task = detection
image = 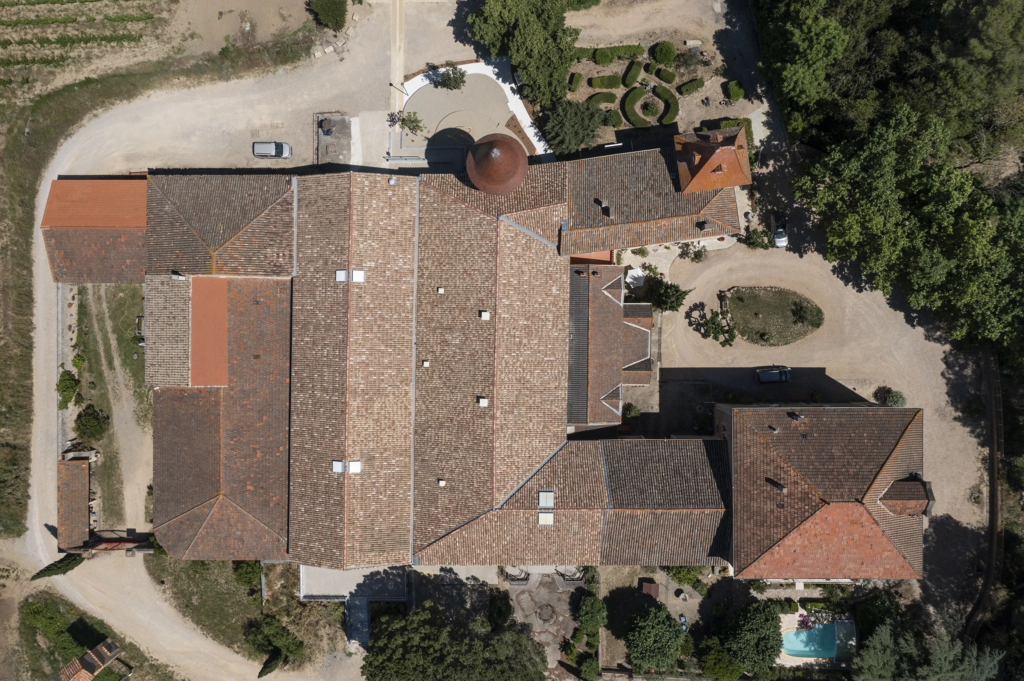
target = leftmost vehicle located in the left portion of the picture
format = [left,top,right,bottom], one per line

[250,138,293,159]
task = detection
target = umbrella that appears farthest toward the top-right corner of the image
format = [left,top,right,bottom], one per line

[625,268,646,287]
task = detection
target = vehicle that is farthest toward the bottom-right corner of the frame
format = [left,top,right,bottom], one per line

[754,365,792,385]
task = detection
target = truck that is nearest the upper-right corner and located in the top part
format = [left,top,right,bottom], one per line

[770,210,792,250]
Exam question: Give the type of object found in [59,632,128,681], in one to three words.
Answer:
shed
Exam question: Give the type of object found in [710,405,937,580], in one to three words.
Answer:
house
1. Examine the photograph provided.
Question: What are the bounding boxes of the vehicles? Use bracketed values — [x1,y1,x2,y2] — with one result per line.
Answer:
[770,210,792,250]
[754,365,792,385]
[250,138,293,159]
